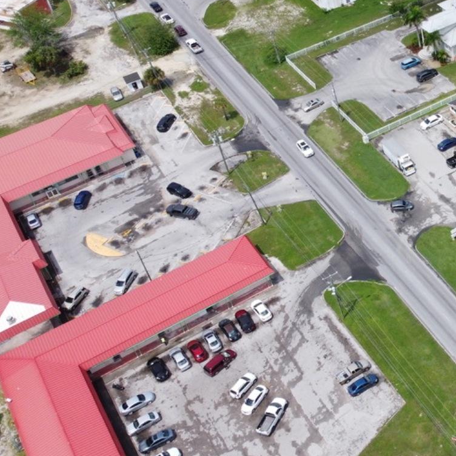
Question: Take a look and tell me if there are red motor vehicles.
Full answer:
Yes, the frame does contain a red motor vehicle.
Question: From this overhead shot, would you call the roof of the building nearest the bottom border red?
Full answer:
Yes, the roof of the building nearest the bottom border is red.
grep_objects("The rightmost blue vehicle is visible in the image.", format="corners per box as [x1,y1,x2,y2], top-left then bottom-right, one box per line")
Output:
[438,136,456,151]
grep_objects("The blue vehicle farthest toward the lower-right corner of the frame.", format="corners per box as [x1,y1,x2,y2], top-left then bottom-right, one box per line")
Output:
[348,374,381,398]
